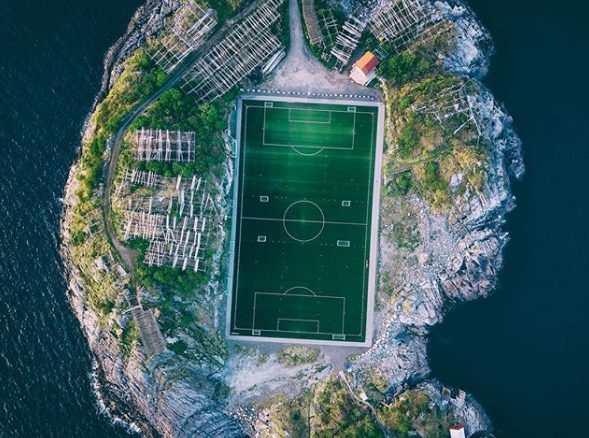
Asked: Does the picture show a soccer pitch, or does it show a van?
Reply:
soccer pitch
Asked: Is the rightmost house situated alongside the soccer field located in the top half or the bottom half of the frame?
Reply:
top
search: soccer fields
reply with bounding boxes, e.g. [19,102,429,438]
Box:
[225,95,383,347]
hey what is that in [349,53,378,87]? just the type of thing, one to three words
house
